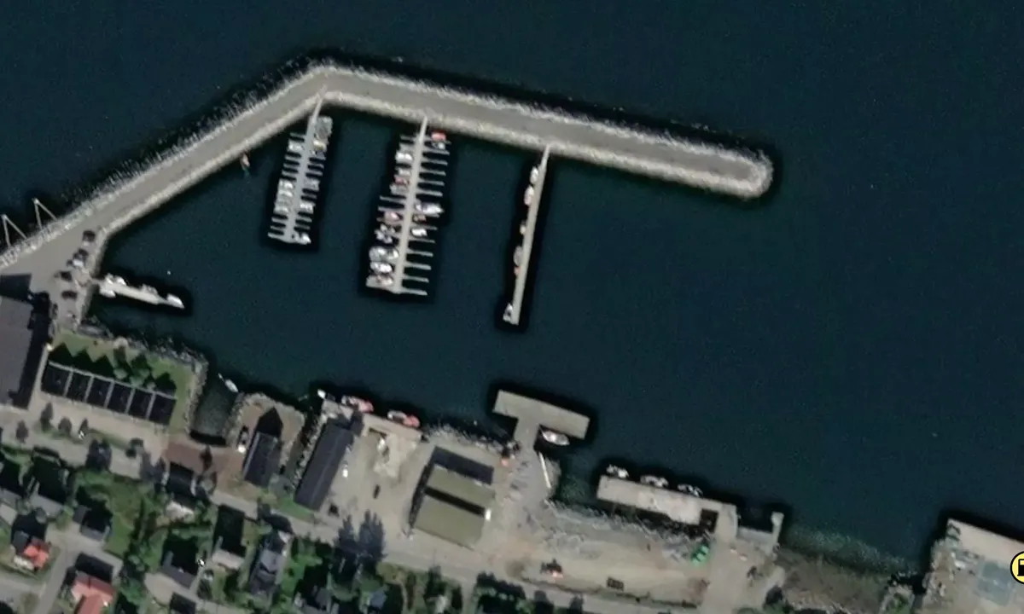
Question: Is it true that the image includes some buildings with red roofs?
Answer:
Yes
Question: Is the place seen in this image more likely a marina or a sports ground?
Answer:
marina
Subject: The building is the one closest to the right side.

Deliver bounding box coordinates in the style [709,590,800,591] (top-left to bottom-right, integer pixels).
[410,457,494,550]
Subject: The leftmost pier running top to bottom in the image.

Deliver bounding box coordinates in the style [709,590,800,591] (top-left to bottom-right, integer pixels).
[268,95,323,243]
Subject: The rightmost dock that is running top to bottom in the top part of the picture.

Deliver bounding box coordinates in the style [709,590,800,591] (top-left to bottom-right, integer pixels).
[511,146,549,325]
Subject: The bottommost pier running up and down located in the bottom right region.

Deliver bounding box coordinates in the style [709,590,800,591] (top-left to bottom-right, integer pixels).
[770,512,784,551]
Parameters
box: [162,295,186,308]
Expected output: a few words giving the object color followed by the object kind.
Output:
white boat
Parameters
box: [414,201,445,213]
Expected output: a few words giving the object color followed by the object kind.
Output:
white boat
